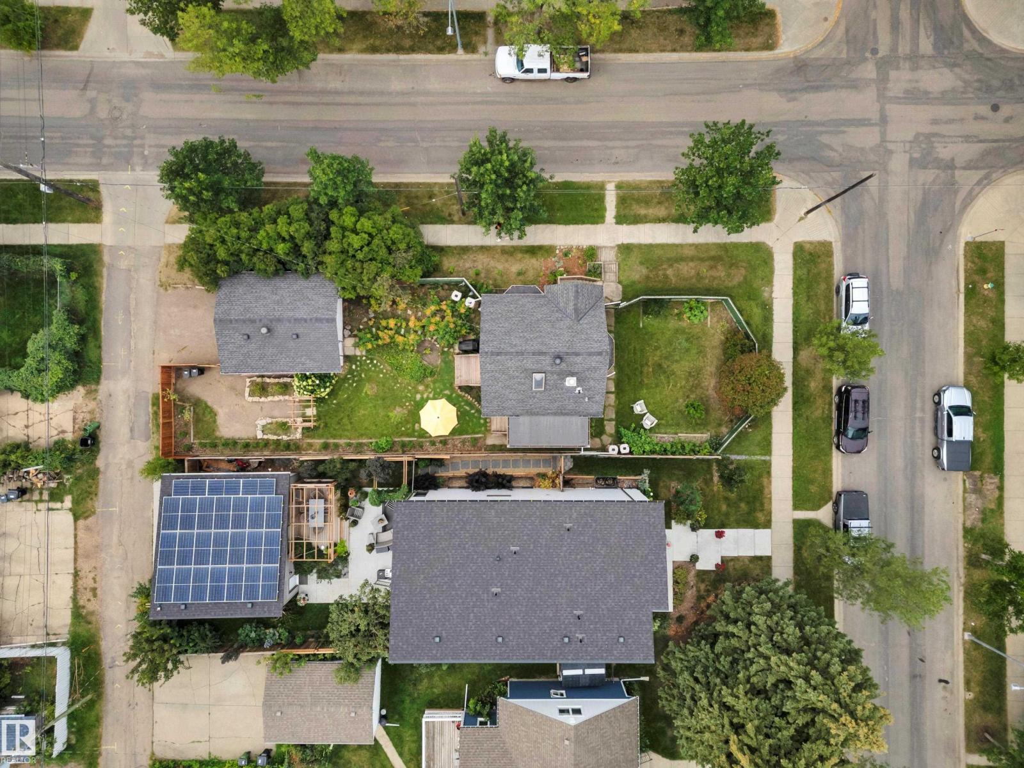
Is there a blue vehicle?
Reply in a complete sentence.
No, I can see no blue vehicle in this picture.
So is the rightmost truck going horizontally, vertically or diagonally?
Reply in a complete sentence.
What the image shows is the rightmost truck lying vertically.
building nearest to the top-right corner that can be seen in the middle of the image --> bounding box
[478,275,620,454]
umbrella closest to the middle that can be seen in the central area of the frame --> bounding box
[419,398,459,437]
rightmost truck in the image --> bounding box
[932,386,975,472]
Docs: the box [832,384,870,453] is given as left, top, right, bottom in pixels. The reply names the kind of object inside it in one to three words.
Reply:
car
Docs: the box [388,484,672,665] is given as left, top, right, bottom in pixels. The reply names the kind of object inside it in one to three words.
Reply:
house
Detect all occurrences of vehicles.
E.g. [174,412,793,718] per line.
[833,267,871,334]
[832,384,870,453]
[932,386,975,472]
[496,44,589,83]
[832,489,874,574]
